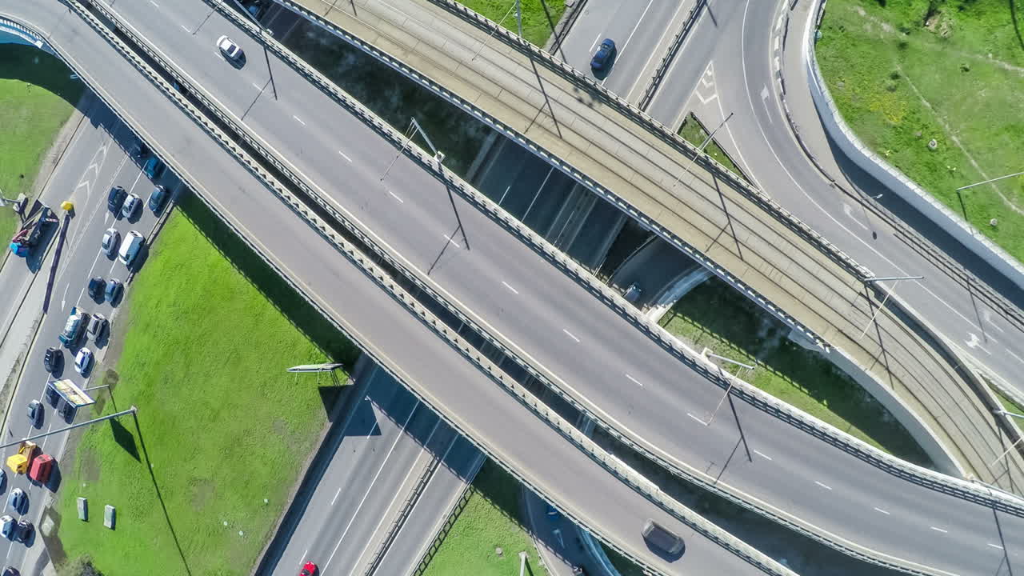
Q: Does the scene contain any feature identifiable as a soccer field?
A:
No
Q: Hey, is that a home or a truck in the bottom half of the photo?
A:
truck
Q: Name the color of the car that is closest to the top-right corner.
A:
blue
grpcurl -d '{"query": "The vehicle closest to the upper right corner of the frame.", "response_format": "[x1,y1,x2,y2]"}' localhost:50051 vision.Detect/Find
[591,37,617,71]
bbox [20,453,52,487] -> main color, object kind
red van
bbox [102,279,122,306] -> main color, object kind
blue car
